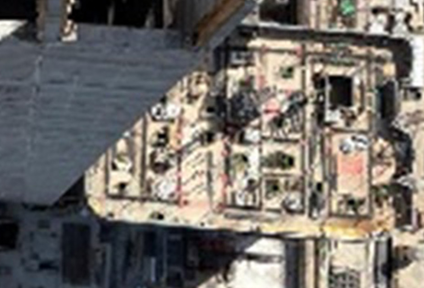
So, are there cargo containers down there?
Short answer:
Yes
